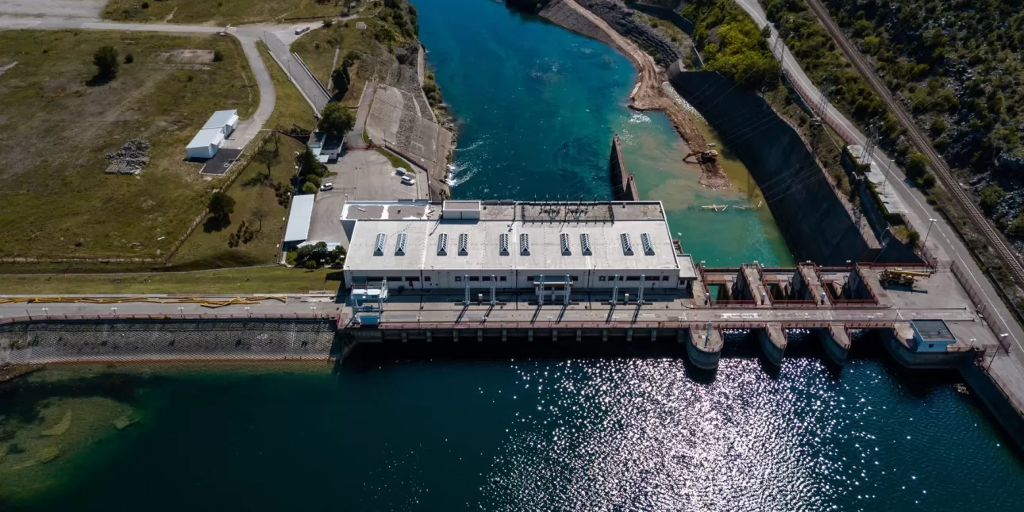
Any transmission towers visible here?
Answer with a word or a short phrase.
Yes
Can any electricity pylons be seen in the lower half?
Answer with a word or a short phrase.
No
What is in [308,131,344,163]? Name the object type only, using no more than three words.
building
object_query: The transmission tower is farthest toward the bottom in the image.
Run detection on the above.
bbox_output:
[859,129,879,162]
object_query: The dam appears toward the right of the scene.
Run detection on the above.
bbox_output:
[322,264,1024,405]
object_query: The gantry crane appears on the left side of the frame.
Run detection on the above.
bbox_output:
[340,277,392,326]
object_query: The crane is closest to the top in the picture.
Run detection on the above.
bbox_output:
[876,268,932,288]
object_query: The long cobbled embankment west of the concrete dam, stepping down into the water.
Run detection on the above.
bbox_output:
[0,318,329,419]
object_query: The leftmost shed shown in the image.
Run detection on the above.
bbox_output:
[185,107,245,157]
